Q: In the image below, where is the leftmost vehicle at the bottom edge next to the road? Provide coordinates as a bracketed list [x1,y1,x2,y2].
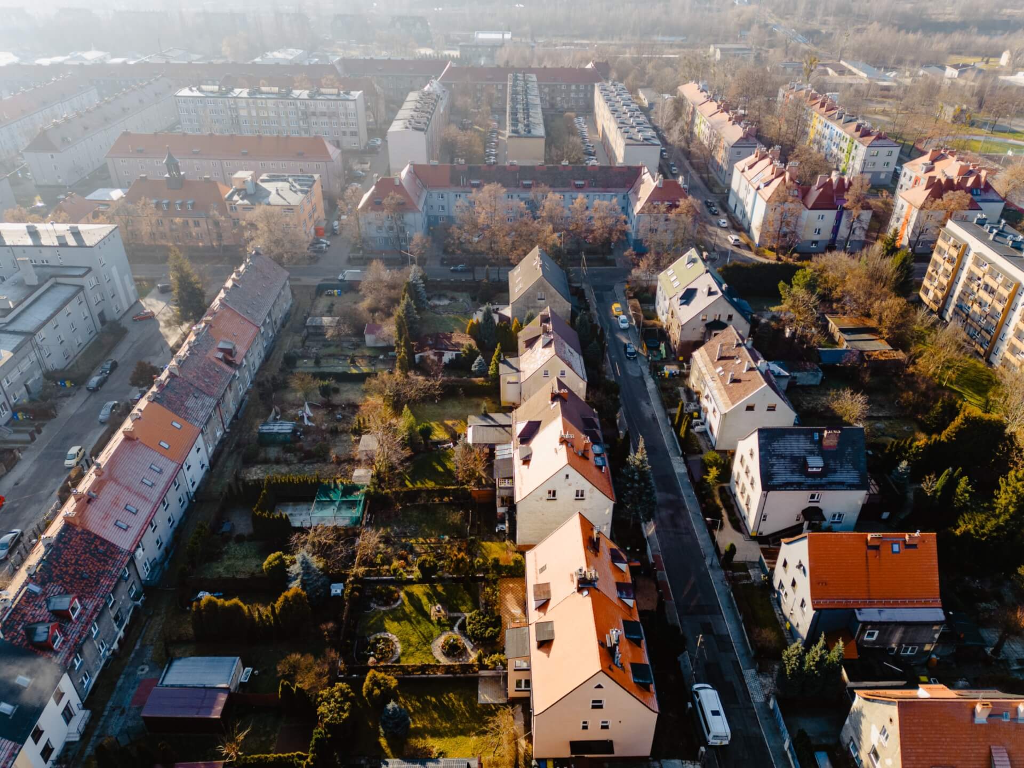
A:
[694,686,733,745]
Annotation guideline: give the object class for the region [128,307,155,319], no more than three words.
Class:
vehicle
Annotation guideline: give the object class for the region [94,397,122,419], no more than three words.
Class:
car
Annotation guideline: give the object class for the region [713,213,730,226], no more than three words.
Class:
vehicle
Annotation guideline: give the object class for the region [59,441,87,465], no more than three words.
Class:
car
